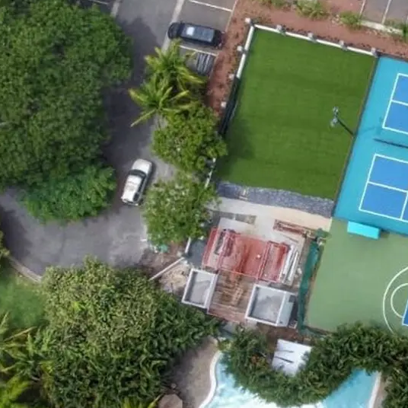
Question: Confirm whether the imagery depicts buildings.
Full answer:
Yes, the photo shows a building.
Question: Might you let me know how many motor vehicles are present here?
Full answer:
My tally gives 2 motor vehicles in this view.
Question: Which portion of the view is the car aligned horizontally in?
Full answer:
The car aligned horizontally appears toward the top of the photo.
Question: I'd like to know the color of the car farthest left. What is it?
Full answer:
The color of the car farthest left is white.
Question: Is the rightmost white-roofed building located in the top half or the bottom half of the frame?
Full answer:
It is in the bottom half that the rightmost white-roofed building appears.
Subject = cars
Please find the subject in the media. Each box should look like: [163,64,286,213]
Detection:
[173,24,219,48]
[121,160,153,205]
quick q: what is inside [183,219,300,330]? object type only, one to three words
building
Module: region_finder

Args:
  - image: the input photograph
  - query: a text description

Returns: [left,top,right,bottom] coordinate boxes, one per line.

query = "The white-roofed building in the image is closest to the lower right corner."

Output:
[272,341,315,376]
